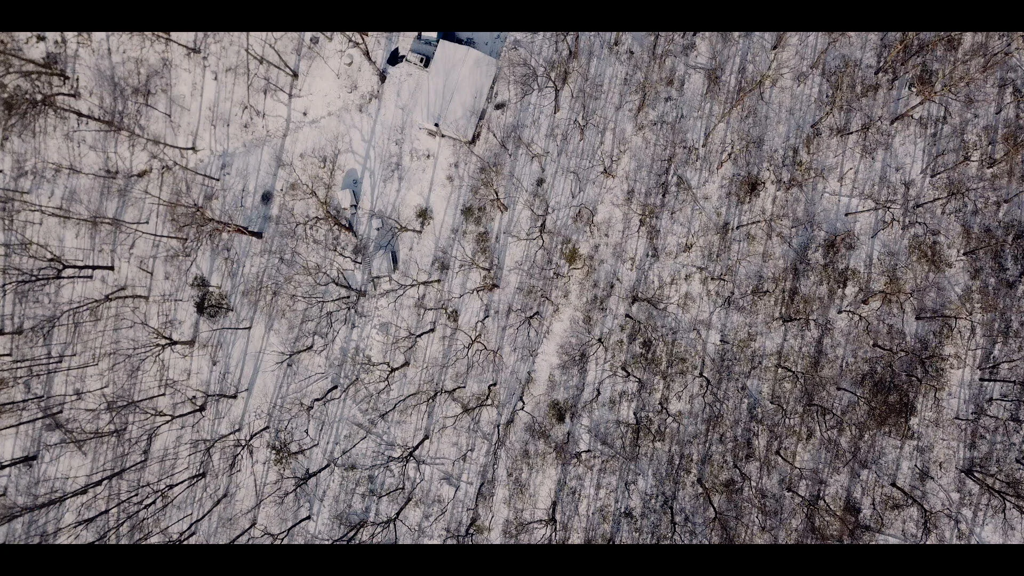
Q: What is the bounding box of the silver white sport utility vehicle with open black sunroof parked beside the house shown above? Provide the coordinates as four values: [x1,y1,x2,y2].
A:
[405,49,434,70]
